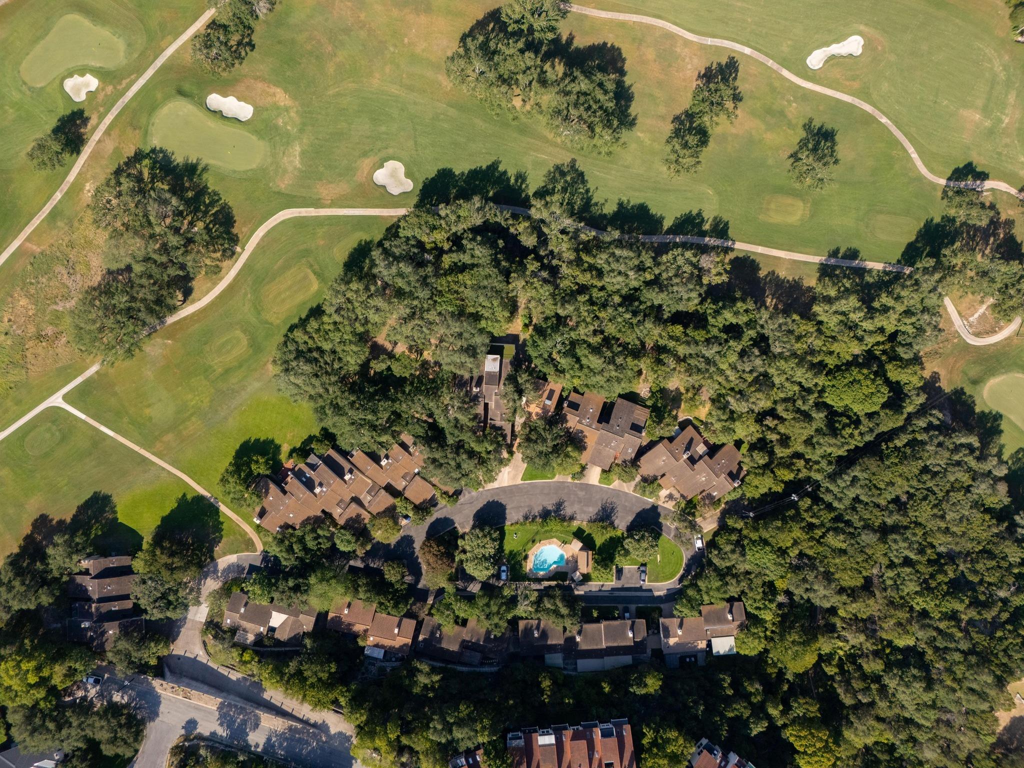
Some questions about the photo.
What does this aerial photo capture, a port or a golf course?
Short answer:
golf course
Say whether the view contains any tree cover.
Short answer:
Yes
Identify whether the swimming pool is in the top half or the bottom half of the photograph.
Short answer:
bottom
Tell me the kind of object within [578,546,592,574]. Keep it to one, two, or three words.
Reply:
building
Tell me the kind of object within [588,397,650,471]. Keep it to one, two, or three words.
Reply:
house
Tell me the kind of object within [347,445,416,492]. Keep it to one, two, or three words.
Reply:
house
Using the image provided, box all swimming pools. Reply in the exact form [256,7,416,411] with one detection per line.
[527,539,578,580]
